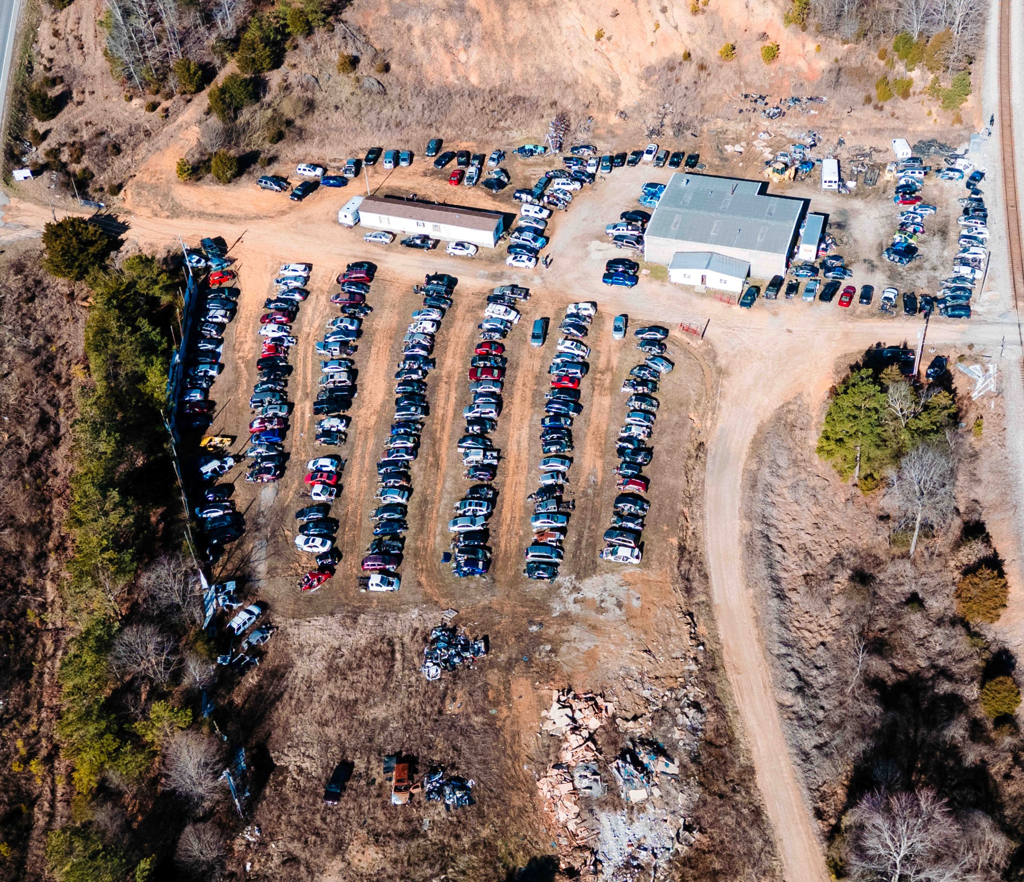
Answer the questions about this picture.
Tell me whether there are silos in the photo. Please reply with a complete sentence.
No, there isn't any silo down there.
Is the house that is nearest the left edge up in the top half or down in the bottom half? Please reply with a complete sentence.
You can find the house that is nearest the left edge in the top half.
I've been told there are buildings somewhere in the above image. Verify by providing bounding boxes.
[643,173,800,276]
[356,195,503,247]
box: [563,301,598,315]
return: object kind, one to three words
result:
car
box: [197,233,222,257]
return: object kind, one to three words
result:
truck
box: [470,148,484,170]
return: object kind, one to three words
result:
vehicle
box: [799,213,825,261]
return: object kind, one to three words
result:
trailer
